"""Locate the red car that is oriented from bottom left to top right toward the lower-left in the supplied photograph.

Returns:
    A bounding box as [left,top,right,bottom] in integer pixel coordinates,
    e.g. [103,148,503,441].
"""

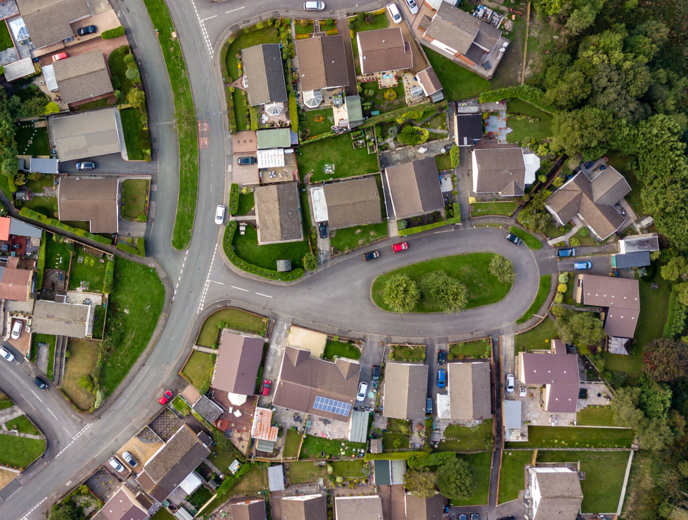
[158,389,172,405]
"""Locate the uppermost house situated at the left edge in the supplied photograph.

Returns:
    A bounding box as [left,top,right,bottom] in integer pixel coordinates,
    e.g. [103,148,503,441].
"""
[9,0,93,50]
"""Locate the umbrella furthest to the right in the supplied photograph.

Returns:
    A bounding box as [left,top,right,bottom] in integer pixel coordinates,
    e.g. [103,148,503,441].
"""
[229,393,246,411]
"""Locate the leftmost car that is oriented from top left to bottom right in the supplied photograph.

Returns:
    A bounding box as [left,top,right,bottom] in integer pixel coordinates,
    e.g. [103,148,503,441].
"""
[0,345,15,363]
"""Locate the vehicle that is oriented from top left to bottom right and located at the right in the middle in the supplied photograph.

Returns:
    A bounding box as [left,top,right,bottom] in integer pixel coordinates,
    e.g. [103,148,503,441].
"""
[504,232,522,246]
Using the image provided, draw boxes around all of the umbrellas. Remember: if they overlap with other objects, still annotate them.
[229,393,246,411]
[27,237,39,248]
